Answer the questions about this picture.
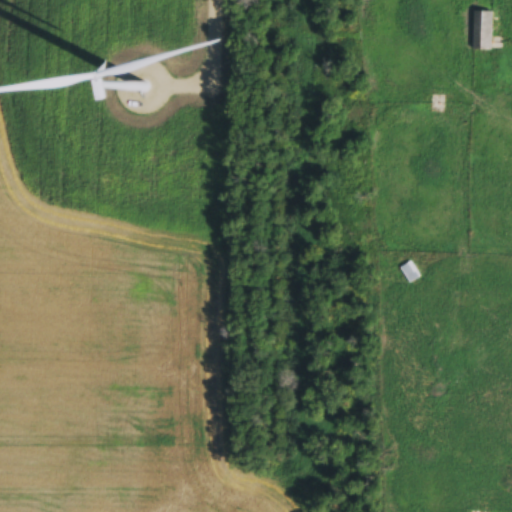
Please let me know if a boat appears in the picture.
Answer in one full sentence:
No, there appears to be no boat in this shot.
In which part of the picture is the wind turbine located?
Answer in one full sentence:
The wind turbine appears toward the top left of the photo.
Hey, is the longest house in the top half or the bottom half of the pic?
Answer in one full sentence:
The longest house sits in the top half of the picture.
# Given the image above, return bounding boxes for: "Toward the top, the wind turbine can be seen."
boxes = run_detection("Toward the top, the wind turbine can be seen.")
[0,35,220,102]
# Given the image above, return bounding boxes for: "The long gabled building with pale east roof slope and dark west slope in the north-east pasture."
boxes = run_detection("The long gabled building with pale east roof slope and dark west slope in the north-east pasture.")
[472,10,494,50]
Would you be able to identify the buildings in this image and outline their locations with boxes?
[472,10,494,50]
[400,260,421,283]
